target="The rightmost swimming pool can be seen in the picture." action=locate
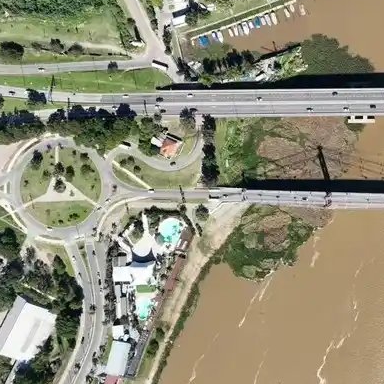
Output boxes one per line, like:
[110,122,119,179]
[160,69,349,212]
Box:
[157,217,186,246]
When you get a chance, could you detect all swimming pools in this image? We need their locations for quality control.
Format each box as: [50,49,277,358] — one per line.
[157,217,186,246]
[135,293,158,320]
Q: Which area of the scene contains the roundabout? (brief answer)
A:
left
